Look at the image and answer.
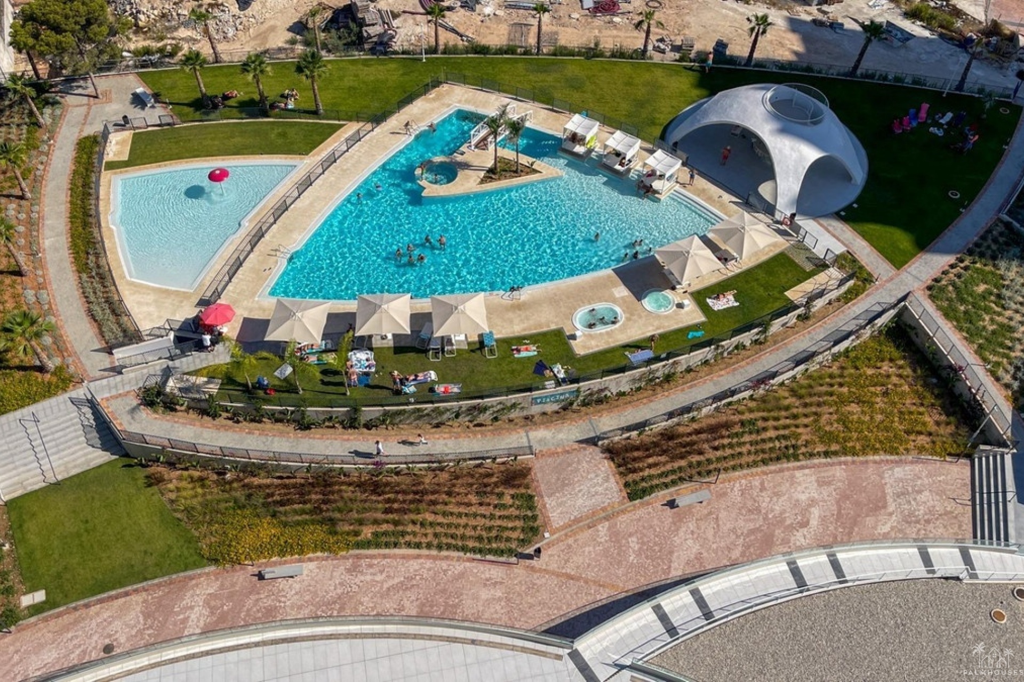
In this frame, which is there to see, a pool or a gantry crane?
pool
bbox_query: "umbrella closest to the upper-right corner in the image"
[708,211,778,265]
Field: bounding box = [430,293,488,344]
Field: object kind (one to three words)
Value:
umbrella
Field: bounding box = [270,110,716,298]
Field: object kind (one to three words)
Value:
swimming pool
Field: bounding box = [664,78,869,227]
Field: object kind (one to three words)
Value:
building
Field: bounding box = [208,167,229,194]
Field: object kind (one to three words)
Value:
fountain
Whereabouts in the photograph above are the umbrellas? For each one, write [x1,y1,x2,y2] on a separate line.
[356,293,412,344]
[654,235,724,288]
[267,299,330,351]
[198,300,238,341]
[430,293,488,344]
[708,211,778,265]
